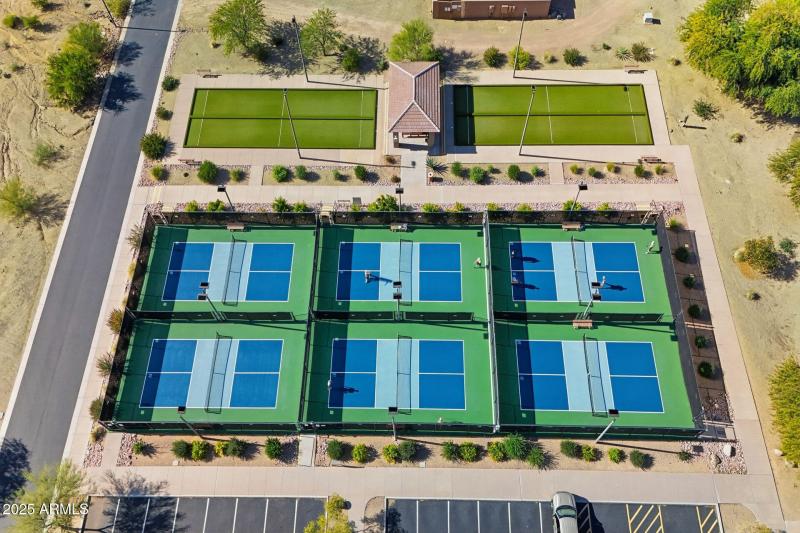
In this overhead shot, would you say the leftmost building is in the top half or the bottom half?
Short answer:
top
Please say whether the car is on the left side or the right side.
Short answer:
right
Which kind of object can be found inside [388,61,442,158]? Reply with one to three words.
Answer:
building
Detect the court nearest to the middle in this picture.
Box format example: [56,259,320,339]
[311,224,487,321]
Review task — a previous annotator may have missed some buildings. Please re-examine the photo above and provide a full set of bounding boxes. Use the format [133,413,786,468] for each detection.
[388,61,442,158]
[433,0,552,20]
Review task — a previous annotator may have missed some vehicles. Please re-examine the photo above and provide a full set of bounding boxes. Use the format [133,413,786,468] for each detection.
[553,493,581,533]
